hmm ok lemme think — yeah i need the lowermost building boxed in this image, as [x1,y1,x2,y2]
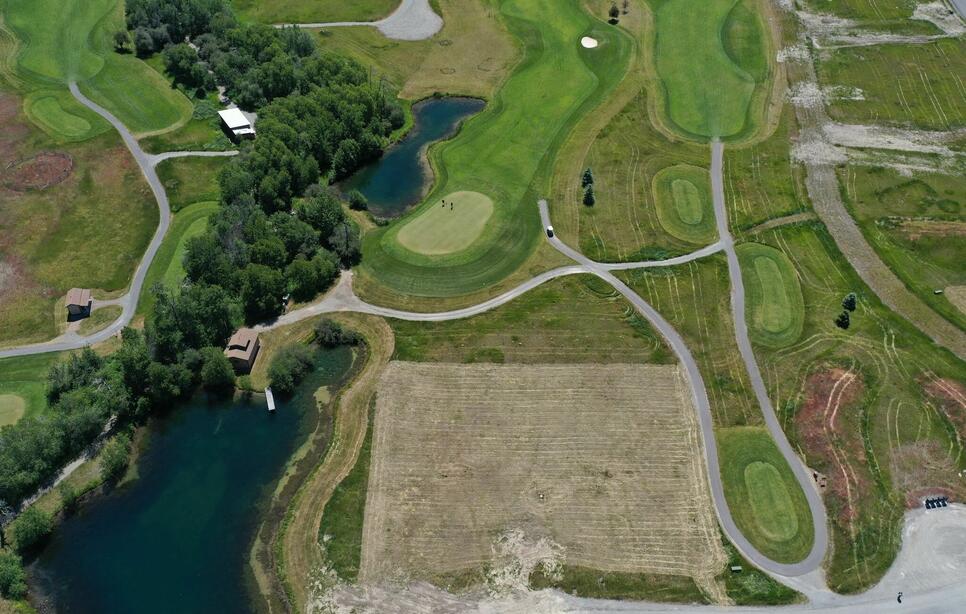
[223,324,266,370]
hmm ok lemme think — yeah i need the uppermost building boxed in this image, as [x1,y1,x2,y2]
[218,107,254,146]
